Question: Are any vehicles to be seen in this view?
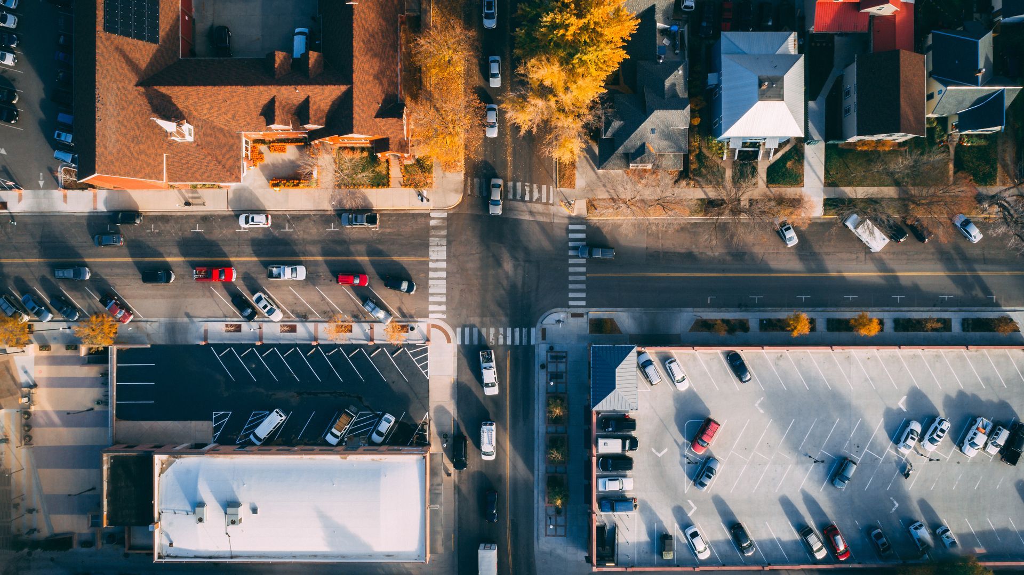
Yes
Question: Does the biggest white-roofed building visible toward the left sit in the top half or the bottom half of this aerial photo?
bottom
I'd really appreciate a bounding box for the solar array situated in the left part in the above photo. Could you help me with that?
[105,0,159,44]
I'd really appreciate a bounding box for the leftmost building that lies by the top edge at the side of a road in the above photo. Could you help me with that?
[76,0,415,187]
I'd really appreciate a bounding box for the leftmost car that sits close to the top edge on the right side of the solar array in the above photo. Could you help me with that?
[213,24,231,56]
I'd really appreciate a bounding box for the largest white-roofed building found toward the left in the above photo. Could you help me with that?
[148,433,444,565]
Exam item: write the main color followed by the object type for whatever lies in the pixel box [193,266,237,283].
red vehicle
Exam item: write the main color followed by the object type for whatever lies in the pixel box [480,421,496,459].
white vehicle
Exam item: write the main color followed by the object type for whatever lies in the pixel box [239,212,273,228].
white car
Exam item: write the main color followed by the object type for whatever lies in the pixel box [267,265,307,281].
white vehicle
